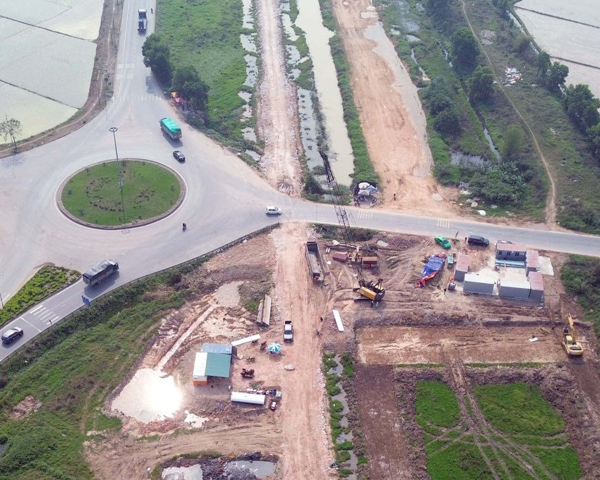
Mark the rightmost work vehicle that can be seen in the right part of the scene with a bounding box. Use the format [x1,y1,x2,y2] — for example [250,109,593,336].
[559,312,586,362]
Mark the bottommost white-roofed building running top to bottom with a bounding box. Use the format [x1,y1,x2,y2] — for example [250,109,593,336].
[193,353,209,384]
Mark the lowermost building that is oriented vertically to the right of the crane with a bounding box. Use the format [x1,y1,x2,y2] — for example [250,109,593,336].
[531,273,546,303]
